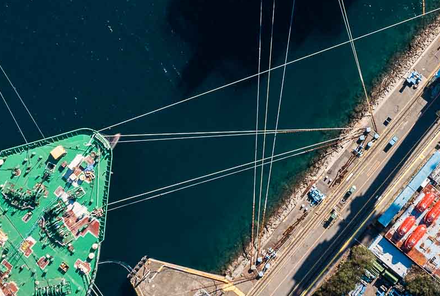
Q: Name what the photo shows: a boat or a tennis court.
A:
boat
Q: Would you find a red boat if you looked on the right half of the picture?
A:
Yes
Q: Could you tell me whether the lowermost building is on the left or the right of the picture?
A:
right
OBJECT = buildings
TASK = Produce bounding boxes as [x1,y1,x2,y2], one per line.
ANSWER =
[376,151,440,228]
[367,231,413,278]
